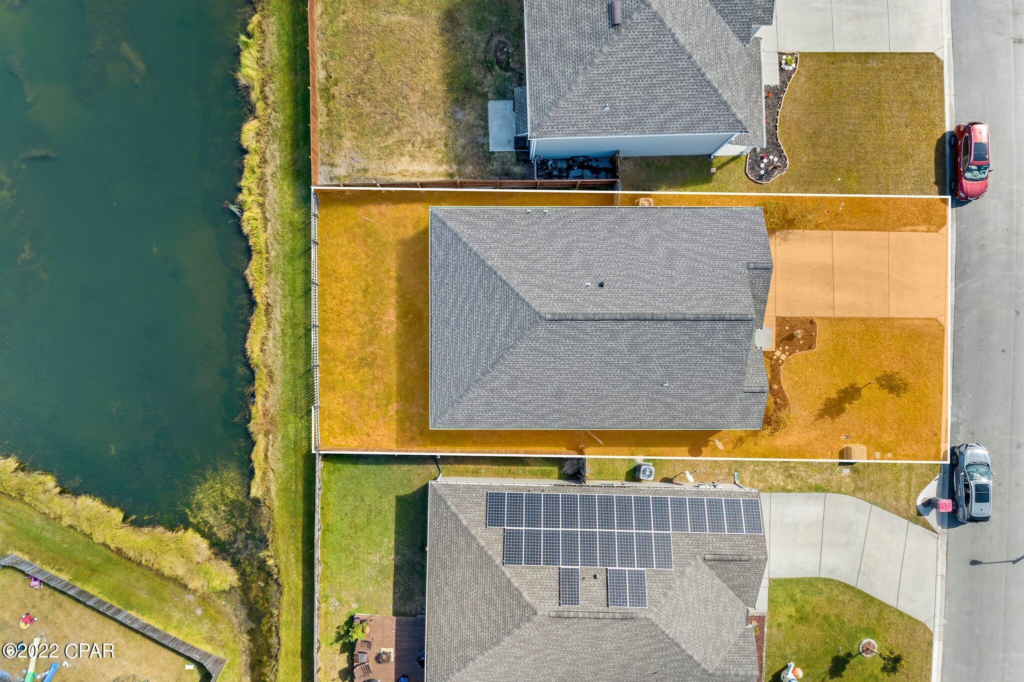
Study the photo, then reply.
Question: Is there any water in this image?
Yes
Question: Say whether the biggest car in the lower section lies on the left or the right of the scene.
right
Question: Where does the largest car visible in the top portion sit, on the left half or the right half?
right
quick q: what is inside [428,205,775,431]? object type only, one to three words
house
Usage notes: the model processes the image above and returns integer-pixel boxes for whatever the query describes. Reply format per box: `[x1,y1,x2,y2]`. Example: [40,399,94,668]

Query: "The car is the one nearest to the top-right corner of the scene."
[949,119,994,200]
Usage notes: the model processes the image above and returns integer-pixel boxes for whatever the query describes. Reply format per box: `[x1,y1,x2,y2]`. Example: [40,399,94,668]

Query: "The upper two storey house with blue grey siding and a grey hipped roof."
[512,0,777,163]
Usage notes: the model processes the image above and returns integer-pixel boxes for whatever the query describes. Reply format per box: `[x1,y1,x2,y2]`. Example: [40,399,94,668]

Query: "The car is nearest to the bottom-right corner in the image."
[949,443,995,523]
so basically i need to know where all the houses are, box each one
[512,0,777,163]
[428,205,775,431]
[422,464,772,682]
